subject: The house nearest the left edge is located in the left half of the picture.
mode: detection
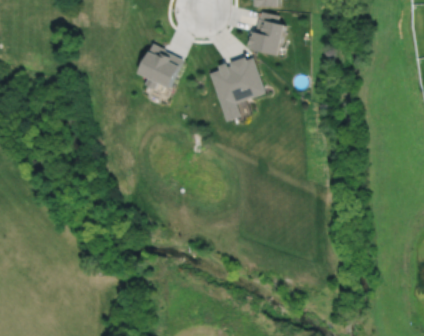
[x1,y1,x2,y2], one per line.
[138,44,182,88]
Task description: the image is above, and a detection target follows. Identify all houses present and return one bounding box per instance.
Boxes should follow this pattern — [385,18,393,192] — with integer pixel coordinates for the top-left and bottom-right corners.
[255,0,281,8]
[246,10,288,57]
[212,56,266,122]
[138,44,182,88]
